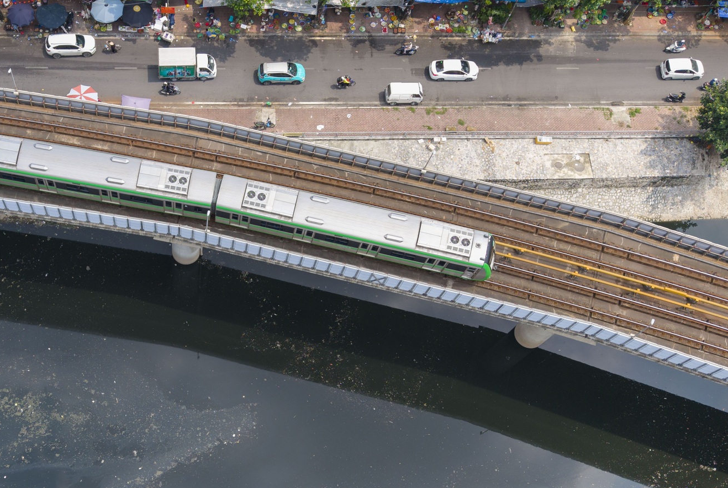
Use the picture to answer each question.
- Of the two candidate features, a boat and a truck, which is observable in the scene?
truck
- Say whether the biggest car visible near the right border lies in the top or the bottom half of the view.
top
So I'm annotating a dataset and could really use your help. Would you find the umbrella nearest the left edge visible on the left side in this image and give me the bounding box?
[7,4,35,32]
